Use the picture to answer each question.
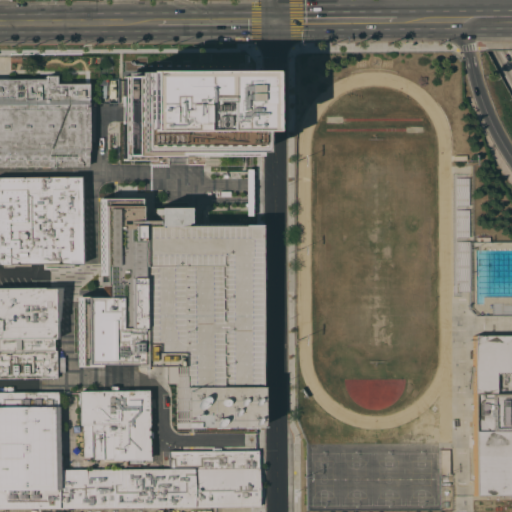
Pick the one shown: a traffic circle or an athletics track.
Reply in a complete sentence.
Looking from above, you can make out an athletics track.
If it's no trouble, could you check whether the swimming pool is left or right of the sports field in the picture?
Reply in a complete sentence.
To the right of the sports field is where the swimming pool appears.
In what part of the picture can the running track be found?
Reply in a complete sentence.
The running track sits in the right section of the image.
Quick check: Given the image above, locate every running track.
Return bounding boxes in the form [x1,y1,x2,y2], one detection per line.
[298,72,453,428]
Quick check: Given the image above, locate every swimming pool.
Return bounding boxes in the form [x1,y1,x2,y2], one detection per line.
[476,250,512,304]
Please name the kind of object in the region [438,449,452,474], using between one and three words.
building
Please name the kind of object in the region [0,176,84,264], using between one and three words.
building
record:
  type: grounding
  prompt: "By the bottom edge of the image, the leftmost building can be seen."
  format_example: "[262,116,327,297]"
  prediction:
[0,392,62,510]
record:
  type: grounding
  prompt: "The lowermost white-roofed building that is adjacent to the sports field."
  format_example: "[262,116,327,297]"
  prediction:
[60,451,261,510]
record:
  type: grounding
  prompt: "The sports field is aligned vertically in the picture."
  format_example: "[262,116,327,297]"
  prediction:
[312,86,438,414]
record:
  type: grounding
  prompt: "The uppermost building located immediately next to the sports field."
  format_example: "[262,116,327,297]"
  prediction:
[125,70,285,158]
